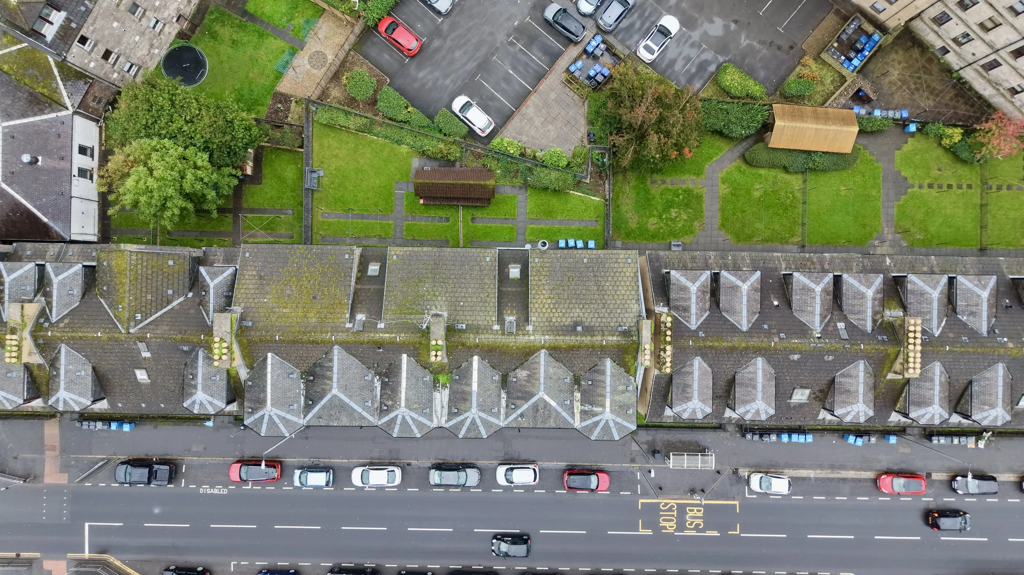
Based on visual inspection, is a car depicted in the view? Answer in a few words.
Yes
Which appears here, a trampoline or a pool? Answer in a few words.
trampoline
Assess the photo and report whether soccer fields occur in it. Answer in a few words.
No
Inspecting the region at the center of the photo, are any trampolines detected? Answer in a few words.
No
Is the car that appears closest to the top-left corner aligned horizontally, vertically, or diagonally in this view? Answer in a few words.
diagonally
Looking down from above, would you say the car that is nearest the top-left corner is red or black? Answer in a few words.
red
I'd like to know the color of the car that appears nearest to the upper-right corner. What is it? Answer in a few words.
white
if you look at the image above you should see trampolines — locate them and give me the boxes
[161,39,210,87]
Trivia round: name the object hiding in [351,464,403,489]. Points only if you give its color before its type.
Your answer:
white car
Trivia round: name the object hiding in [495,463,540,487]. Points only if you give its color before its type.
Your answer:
white car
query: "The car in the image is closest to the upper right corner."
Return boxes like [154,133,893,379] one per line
[637,15,678,65]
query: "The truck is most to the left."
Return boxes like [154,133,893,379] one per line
[115,461,177,488]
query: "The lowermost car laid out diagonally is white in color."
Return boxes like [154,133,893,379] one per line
[452,94,496,139]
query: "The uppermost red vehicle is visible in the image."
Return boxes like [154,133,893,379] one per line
[377,17,423,58]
